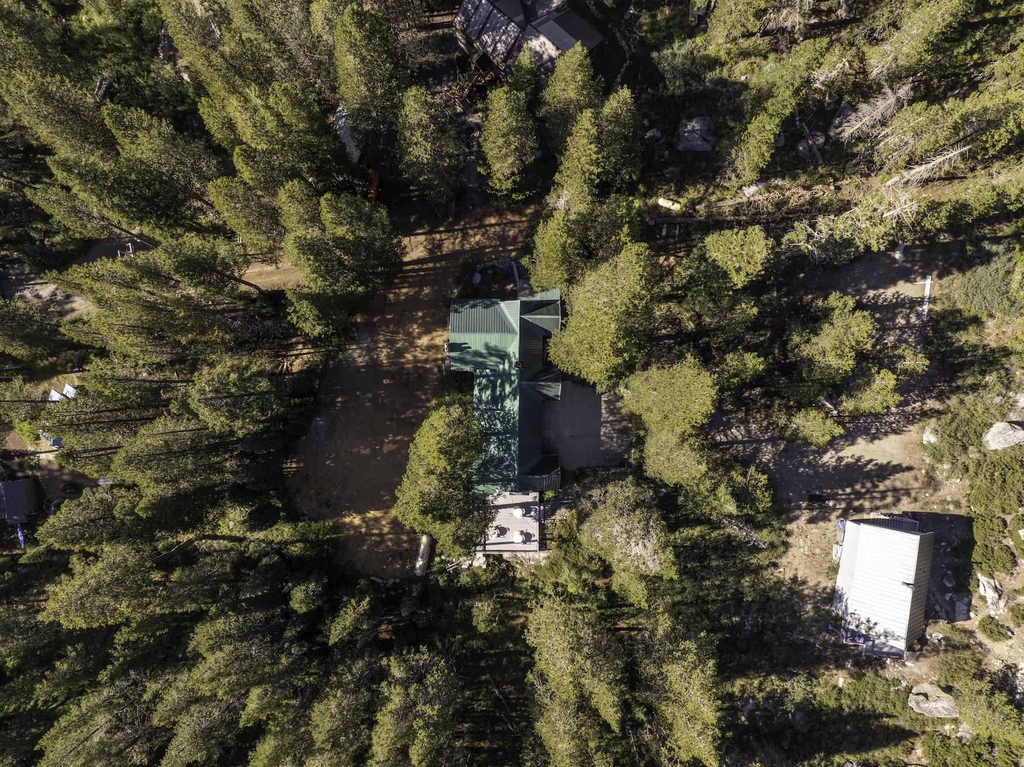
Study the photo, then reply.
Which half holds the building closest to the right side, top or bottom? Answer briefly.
bottom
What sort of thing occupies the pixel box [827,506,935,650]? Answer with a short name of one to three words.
building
